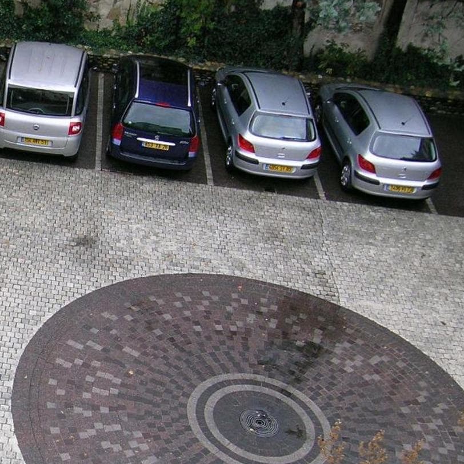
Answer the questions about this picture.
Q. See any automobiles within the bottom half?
No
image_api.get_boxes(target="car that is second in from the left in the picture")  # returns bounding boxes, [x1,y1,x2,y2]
[214,65,323,178]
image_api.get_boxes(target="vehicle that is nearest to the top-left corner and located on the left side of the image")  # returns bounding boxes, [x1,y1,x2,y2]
[110,54,208,171]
